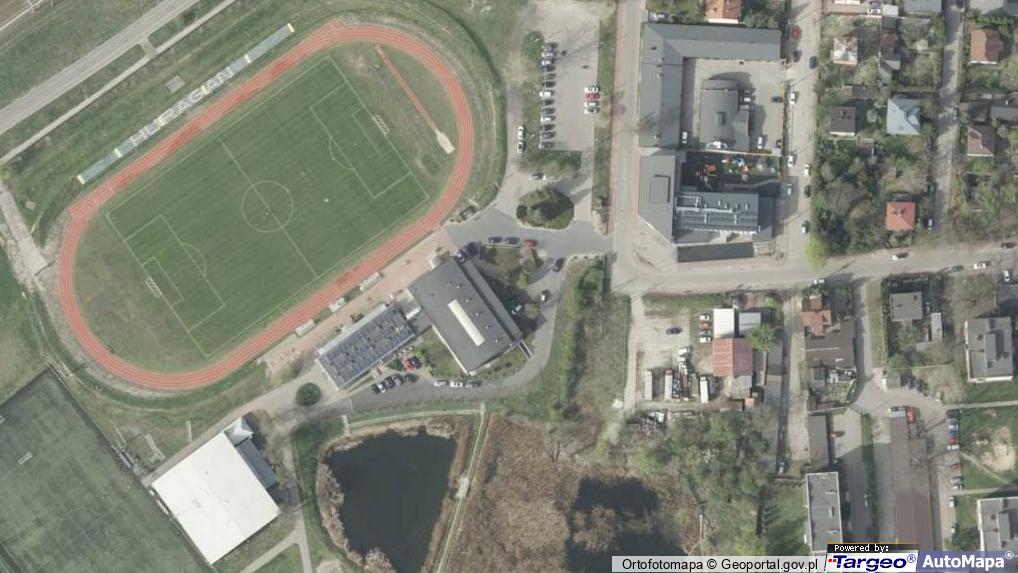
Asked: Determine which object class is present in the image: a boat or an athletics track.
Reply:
athletics track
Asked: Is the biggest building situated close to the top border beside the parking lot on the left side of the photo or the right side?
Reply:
right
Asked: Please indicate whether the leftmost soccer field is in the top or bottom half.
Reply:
bottom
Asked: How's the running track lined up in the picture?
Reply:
at an angle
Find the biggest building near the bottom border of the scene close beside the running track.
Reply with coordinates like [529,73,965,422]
[152,433,280,565]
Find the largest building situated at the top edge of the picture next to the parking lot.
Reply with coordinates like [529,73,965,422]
[638,22,780,150]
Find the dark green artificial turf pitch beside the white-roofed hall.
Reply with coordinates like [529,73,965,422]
[0,366,207,573]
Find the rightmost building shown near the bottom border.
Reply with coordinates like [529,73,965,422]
[975,498,1018,568]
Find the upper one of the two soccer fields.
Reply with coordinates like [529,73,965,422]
[101,53,434,362]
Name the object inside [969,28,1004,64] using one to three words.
house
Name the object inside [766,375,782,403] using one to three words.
shed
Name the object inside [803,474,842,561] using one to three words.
building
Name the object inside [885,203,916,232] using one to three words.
house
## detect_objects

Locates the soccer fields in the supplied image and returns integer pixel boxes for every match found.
[0,366,207,573]
[101,53,434,362]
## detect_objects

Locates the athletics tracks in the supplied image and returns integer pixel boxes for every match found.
[58,18,478,390]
